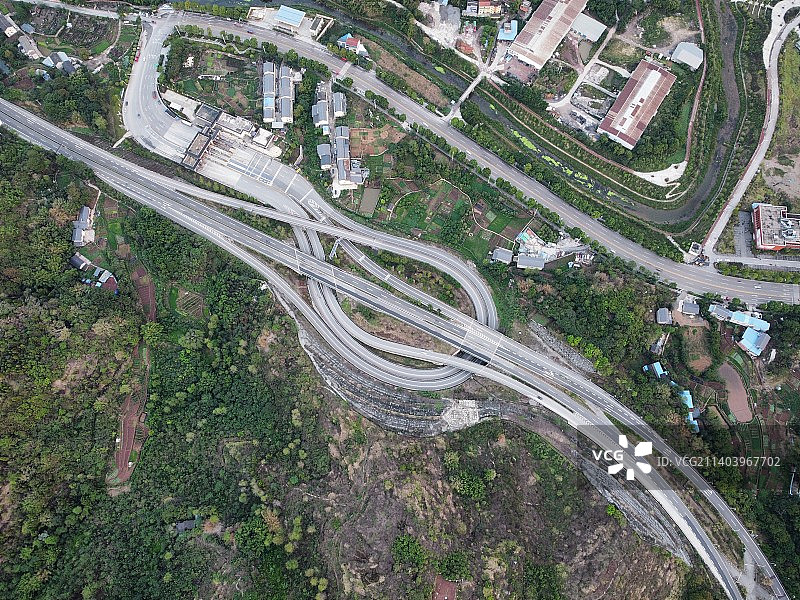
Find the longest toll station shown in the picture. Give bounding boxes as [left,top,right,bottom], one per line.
[123,14,328,229]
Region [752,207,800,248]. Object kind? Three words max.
building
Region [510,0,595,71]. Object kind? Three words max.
building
